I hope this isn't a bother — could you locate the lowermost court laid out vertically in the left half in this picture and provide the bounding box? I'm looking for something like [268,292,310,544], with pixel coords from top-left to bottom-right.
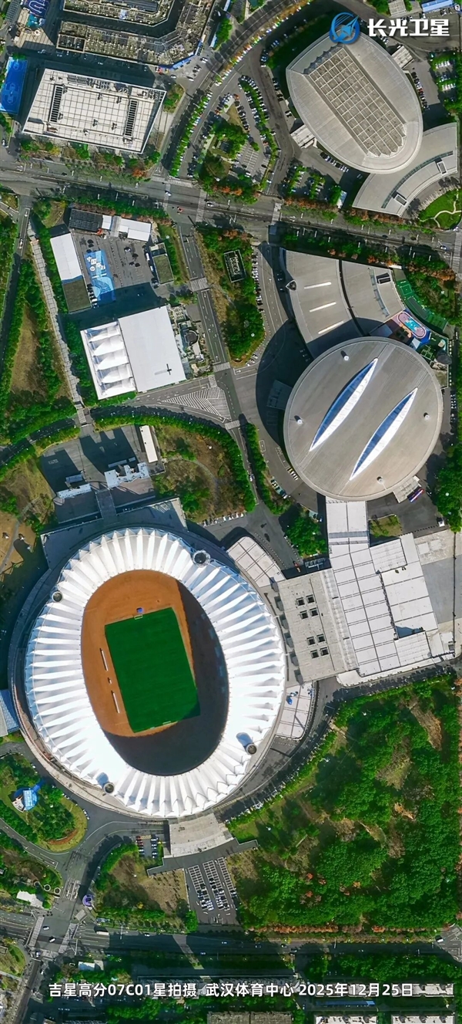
[84,251,115,305]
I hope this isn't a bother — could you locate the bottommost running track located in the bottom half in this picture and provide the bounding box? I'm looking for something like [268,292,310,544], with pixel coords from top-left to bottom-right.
[82,572,226,774]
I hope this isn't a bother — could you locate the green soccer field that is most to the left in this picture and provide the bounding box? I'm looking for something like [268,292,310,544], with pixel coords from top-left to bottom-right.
[105,607,200,733]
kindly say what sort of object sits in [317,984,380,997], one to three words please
building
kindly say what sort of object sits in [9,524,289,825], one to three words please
stadium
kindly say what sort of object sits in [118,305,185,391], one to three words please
building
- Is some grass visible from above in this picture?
Yes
